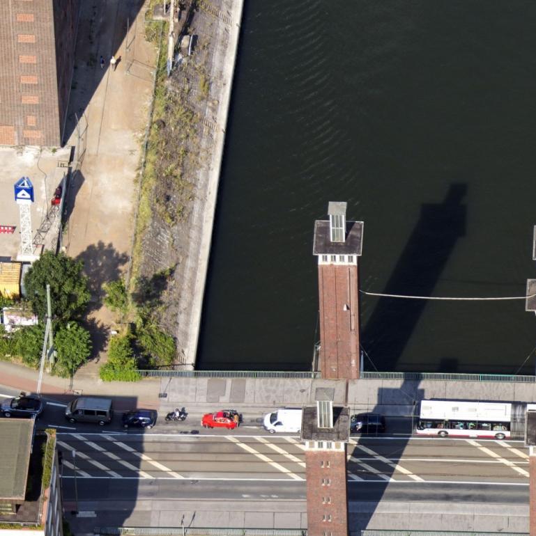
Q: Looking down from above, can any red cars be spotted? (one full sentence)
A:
Yes, you can see a red car in this photo.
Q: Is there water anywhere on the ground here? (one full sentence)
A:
Yes, water can be seen from above here.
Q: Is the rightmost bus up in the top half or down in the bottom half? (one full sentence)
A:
Seen from above, the rightmost bus lies in the bottom half of the view.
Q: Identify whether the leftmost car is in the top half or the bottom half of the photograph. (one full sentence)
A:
The leftmost car sits in the bottom half of the picture.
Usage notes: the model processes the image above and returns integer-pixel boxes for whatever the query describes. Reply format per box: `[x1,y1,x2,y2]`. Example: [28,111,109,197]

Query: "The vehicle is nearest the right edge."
[414,399,536,439]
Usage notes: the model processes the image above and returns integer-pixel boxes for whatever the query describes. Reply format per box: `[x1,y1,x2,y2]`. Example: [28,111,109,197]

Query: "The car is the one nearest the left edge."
[0,397,40,418]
